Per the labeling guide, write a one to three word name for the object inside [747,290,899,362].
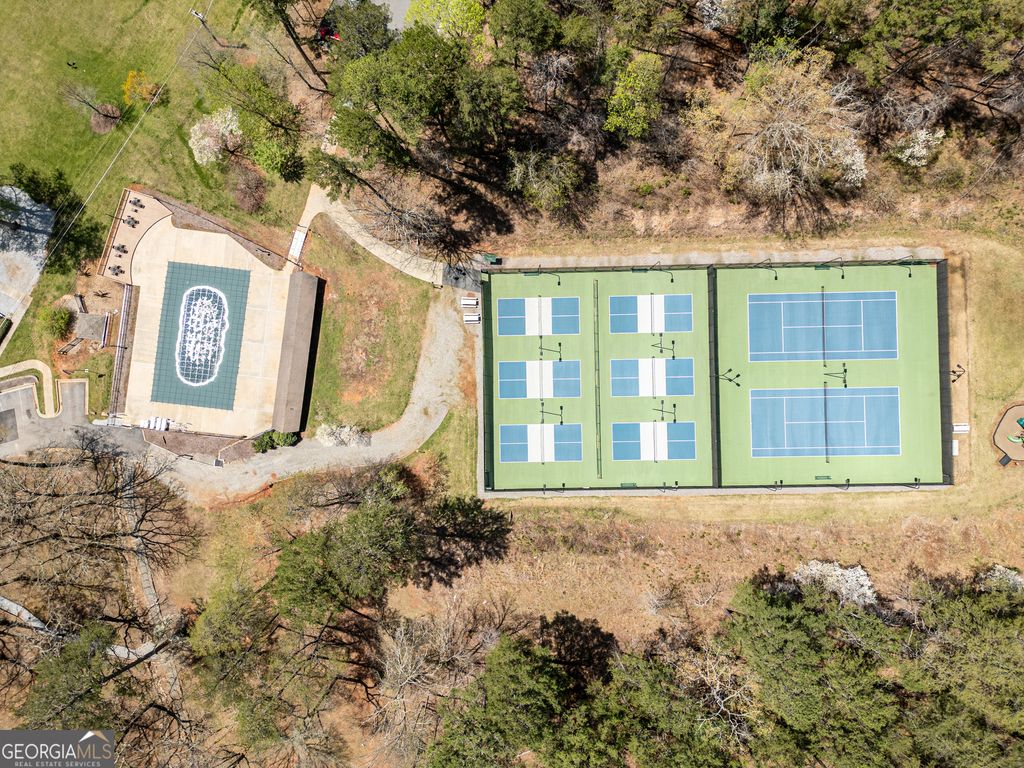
tennis court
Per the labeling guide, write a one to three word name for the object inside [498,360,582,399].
sports court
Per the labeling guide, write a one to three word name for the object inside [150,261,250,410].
swimming pool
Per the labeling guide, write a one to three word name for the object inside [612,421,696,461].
sports court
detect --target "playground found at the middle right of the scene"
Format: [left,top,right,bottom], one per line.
[993,403,1024,466]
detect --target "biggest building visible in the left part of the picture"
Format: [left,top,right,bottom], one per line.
[272,271,320,433]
